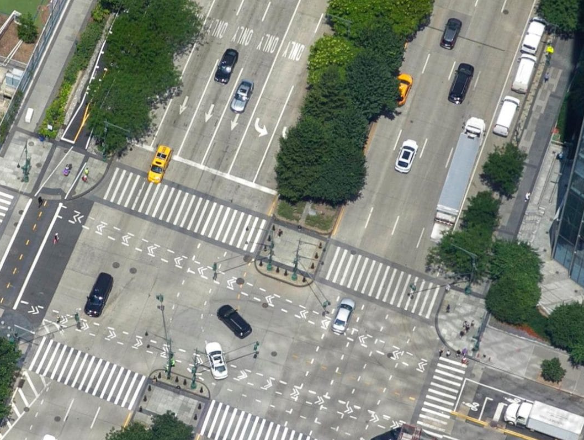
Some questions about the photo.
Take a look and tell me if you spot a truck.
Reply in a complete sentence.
Yes, a truck can be made out from above.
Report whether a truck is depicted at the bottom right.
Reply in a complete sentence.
Yes, a truck shows up at the bottom right.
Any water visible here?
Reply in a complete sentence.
No, the scene doesn't show any water.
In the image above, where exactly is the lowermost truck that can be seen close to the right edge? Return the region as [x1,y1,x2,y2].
[502,405,584,440]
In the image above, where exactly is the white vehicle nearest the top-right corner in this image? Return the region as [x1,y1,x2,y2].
[522,17,545,55]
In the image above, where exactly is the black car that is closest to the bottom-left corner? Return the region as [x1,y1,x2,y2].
[87,272,114,318]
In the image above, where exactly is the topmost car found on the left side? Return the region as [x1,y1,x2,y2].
[215,48,237,86]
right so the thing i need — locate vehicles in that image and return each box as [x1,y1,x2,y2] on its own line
[493,96,518,138]
[397,76,414,108]
[440,19,461,51]
[232,79,254,114]
[331,299,353,335]
[448,63,473,106]
[148,145,171,183]
[87,272,114,318]
[522,17,545,55]
[396,141,416,175]
[215,48,237,86]
[502,405,584,440]
[217,305,252,340]
[205,344,227,381]
[431,121,485,244]
[372,426,405,440]
[510,54,535,94]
